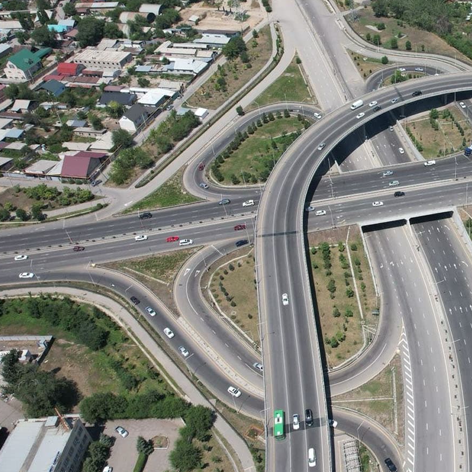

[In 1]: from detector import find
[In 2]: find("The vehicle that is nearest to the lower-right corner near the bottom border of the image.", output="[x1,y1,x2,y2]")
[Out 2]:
[384,457,397,472]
